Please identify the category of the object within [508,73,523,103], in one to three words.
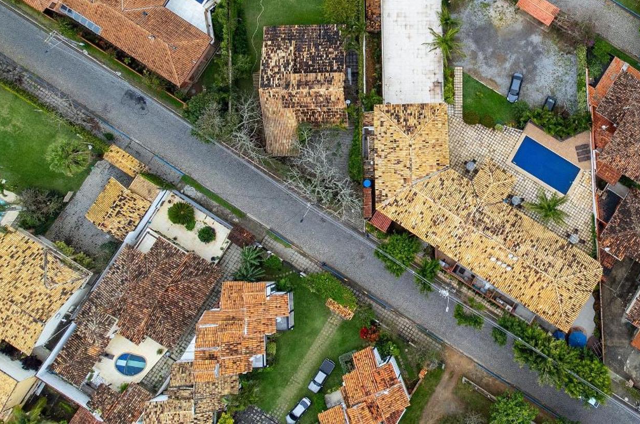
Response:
car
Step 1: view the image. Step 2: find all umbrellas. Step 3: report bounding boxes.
[568,329,586,347]
[553,328,567,340]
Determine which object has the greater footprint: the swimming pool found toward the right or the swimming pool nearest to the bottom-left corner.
the swimming pool found toward the right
